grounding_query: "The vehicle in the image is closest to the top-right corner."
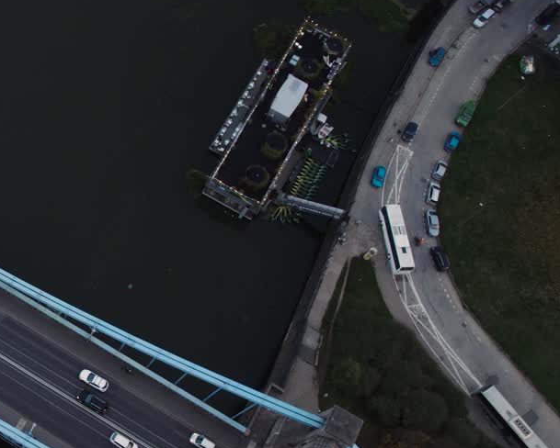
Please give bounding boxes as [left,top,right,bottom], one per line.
[536,1,560,23]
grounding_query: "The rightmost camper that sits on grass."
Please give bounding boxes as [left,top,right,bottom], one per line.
[517,53,539,76]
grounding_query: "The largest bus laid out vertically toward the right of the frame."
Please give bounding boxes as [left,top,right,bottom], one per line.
[376,202,416,281]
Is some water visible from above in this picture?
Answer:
Yes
